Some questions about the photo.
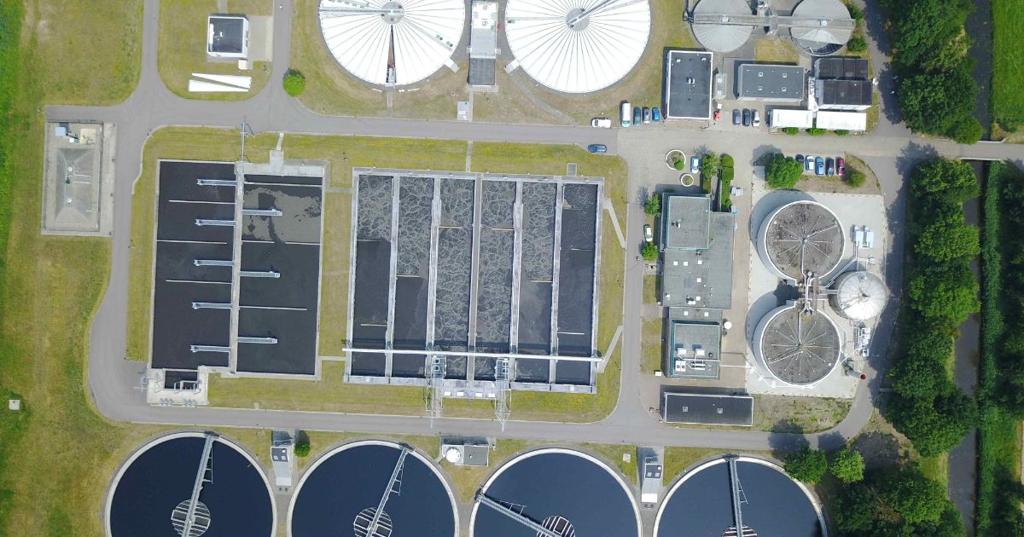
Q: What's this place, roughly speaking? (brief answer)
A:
industrial area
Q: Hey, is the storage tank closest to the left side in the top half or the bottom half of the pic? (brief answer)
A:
bottom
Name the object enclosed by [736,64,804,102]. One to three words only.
building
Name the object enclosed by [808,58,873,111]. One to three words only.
building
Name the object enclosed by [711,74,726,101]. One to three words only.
shed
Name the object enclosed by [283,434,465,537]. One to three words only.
storage tank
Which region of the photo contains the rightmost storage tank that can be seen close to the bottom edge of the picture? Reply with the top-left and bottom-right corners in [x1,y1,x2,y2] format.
[648,450,831,537]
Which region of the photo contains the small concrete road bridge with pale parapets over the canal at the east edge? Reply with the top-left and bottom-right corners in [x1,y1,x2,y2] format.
[958,137,1007,162]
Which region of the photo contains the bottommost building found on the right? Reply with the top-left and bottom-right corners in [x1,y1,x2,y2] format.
[641,456,662,503]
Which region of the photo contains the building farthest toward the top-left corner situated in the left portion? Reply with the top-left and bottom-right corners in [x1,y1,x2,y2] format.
[207,16,249,57]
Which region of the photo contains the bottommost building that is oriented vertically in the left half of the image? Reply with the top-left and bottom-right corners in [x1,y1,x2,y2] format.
[271,440,294,486]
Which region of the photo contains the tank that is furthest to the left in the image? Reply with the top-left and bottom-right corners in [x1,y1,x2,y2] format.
[100,426,283,537]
